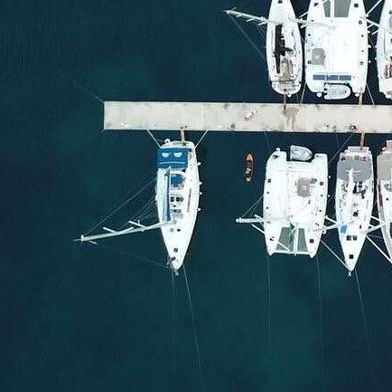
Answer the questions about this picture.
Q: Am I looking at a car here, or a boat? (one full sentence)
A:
Visible in the photo is a boat.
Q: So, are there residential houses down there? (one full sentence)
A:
No, the frame has no residential house in it.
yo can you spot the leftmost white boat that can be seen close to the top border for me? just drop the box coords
[222,0,305,99]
